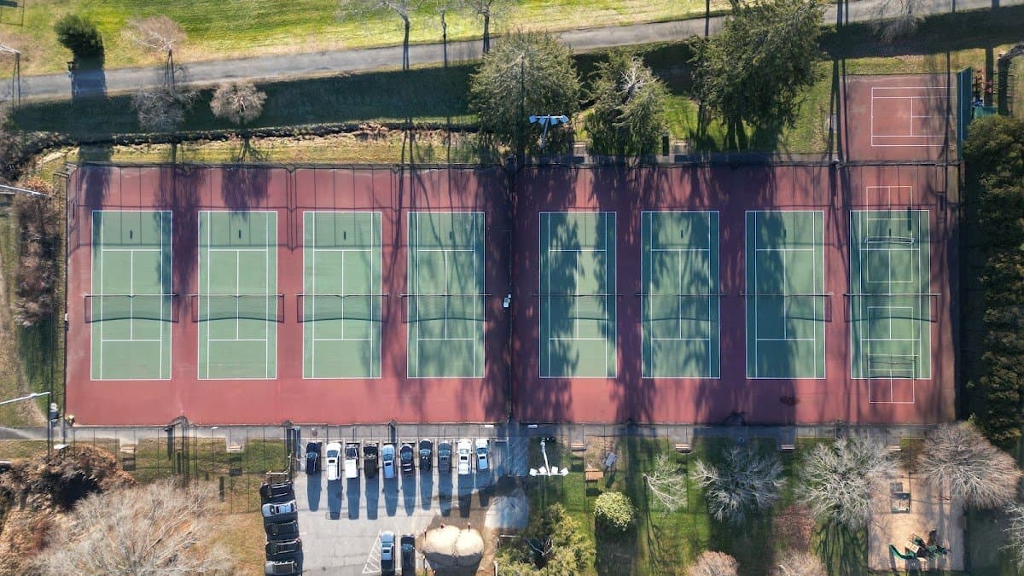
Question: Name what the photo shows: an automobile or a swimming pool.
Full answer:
It is an automobile that can be seen here.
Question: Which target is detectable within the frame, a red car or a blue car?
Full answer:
Visible in the photo is a blue car.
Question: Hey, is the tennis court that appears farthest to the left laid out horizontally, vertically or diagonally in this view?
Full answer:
I'd say the tennis court that appears farthest to the left is aligned vertically in the picture.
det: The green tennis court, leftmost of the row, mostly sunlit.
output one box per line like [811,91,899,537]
[92,211,171,380]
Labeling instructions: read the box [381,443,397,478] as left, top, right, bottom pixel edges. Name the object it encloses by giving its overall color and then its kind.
blue car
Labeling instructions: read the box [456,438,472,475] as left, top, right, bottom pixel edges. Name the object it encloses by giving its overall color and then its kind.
white car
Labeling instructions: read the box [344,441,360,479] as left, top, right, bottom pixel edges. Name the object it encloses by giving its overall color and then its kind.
white vehicle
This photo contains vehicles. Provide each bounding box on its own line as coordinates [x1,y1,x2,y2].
[263,500,299,520]
[417,438,433,471]
[267,536,303,556]
[344,441,360,479]
[400,536,417,573]
[305,440,322,475]
[267,555,305,575]
[456,438,472,475]
[362,442,379,479]
[436,439,452,474]
[325,441,343,480]
[260,482,297,501]
[266,518,302,537]
[474,437,490,470]
[381,443,397,478]
[399,443,415,477]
